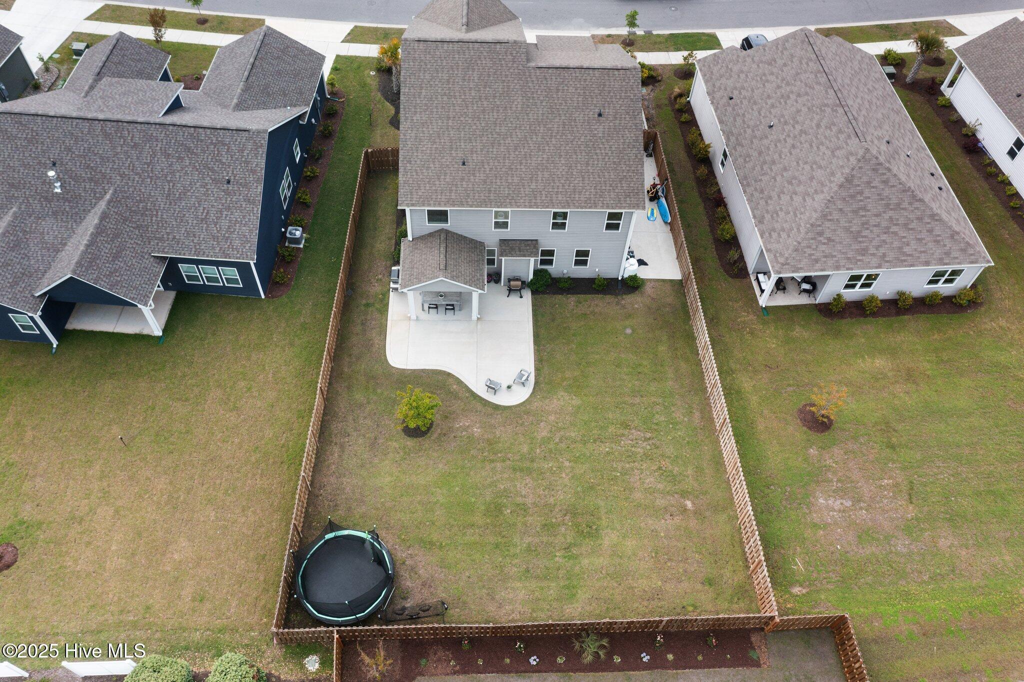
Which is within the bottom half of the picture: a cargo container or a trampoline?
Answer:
trampoline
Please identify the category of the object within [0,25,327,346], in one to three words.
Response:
house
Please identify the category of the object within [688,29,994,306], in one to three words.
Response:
house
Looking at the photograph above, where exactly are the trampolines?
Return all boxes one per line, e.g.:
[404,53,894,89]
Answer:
[290,516,394,628]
